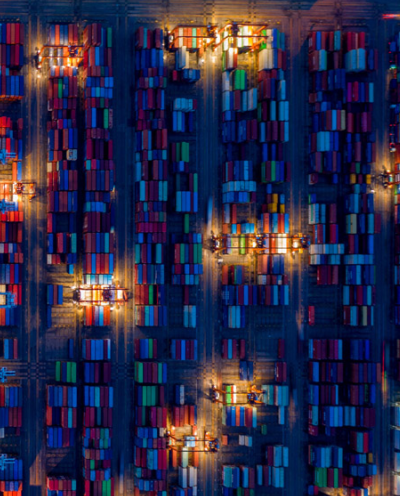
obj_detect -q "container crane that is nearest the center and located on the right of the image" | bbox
[212,235,271,253]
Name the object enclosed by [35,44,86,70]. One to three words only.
container crane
